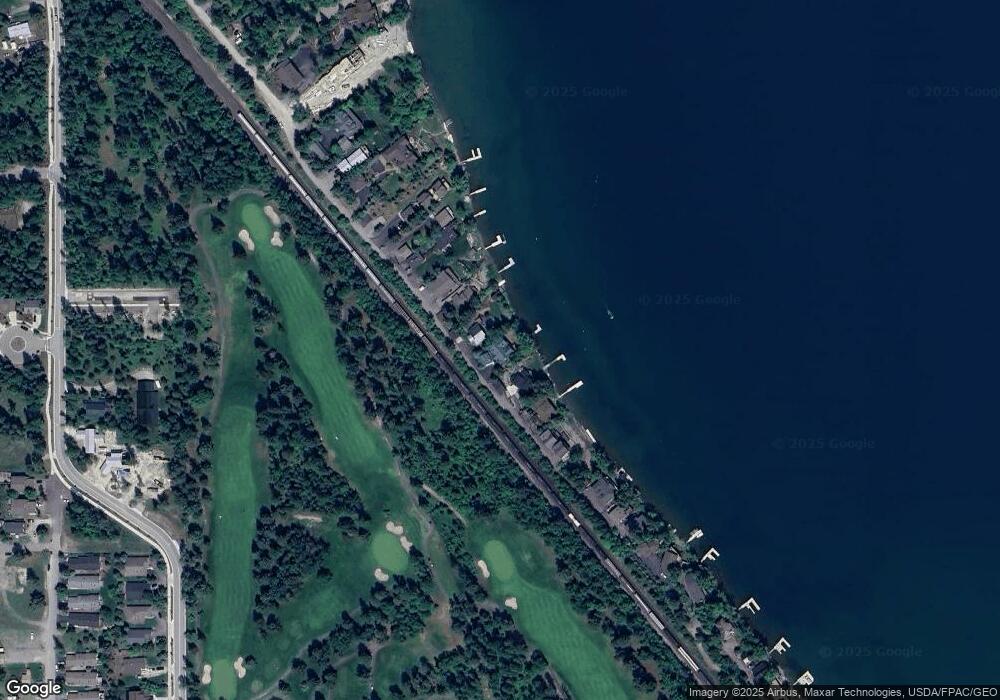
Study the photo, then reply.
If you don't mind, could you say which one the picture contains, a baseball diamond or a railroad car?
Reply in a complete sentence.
Looking from above, you can make out a railroad car.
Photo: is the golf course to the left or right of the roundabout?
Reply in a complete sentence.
The golf course can be seen on the right of the roundabout.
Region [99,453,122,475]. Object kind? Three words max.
barn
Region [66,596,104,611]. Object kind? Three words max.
house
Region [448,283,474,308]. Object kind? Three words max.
house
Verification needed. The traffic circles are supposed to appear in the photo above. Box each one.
[0,325,36,362]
